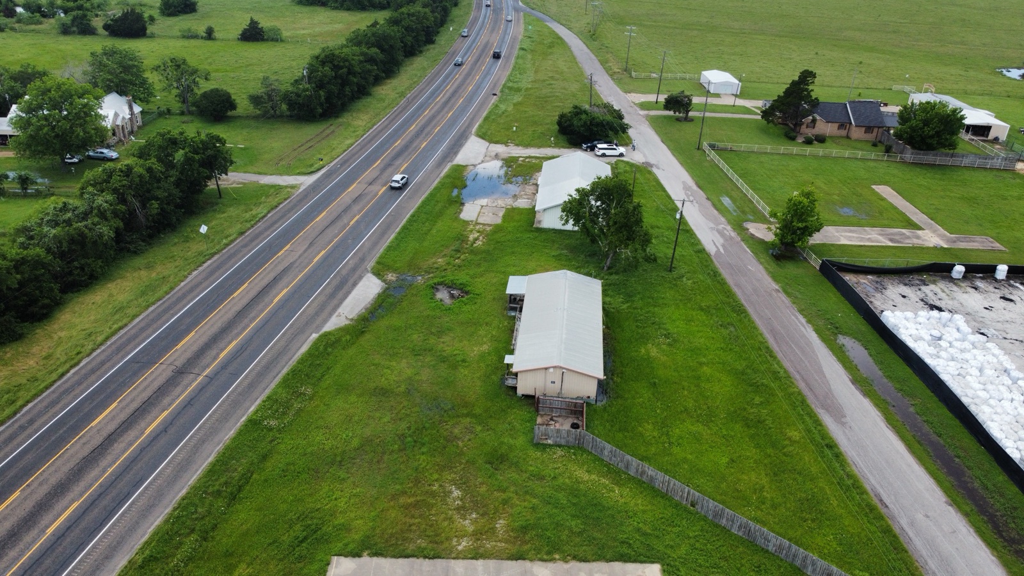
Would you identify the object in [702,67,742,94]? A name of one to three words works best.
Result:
building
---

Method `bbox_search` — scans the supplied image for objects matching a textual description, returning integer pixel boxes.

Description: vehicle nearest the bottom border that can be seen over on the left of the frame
[387,174,408,188]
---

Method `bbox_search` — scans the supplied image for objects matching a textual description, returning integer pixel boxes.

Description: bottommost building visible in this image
[503,270,605,402]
